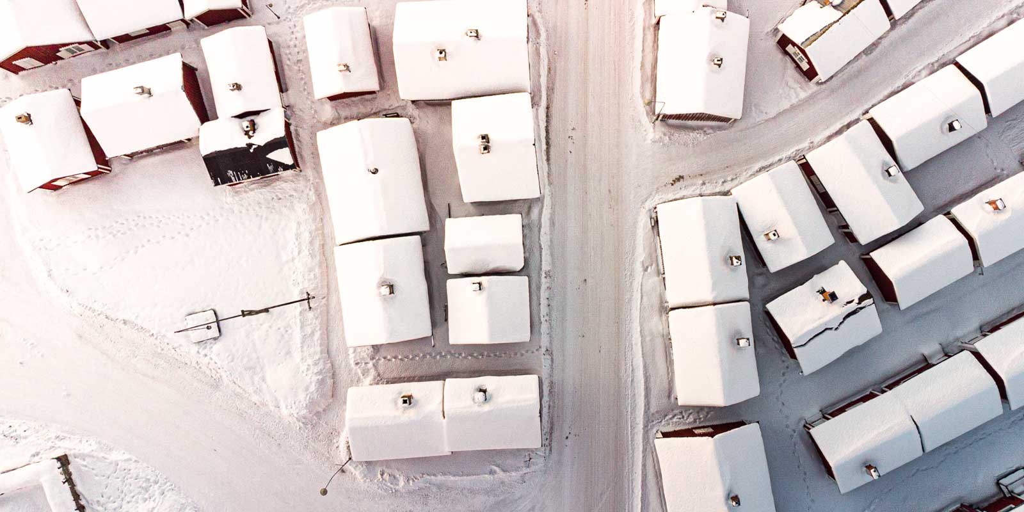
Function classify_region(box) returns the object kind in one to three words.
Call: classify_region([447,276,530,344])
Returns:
building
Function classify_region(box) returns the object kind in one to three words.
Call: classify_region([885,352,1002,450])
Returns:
building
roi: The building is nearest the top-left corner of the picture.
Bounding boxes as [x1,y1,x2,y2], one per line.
[0,0,108,73]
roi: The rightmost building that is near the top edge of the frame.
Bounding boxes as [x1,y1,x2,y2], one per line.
[954,20,1024,117]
